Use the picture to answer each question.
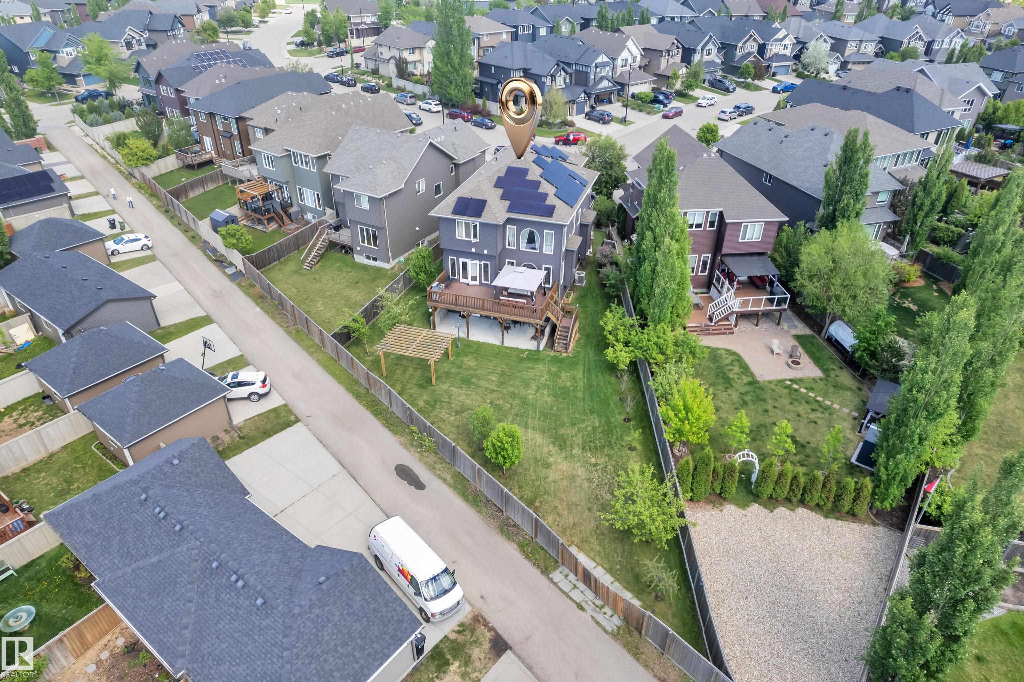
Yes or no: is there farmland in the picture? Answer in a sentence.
No, farmland can't be seen anywhere here.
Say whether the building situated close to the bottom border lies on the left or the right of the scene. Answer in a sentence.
It is on the left.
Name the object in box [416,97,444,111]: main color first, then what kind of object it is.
white car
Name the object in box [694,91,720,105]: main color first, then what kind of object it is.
white car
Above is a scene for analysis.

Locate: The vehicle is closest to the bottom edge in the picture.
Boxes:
[371,516,472,631]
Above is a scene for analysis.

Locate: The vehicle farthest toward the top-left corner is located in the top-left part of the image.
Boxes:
[73,87,113,101]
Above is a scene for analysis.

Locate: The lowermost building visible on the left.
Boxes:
[35,442,426,682]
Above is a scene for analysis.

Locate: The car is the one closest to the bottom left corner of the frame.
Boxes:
[224,369,274,415]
